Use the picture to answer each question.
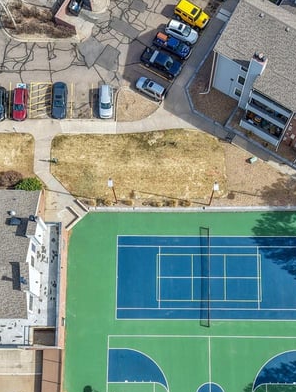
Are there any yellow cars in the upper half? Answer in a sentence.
Yes, in the upper half there is a yellow car.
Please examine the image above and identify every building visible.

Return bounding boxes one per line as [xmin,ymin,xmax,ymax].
[205,0,296,144]
[0,189,62,352]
